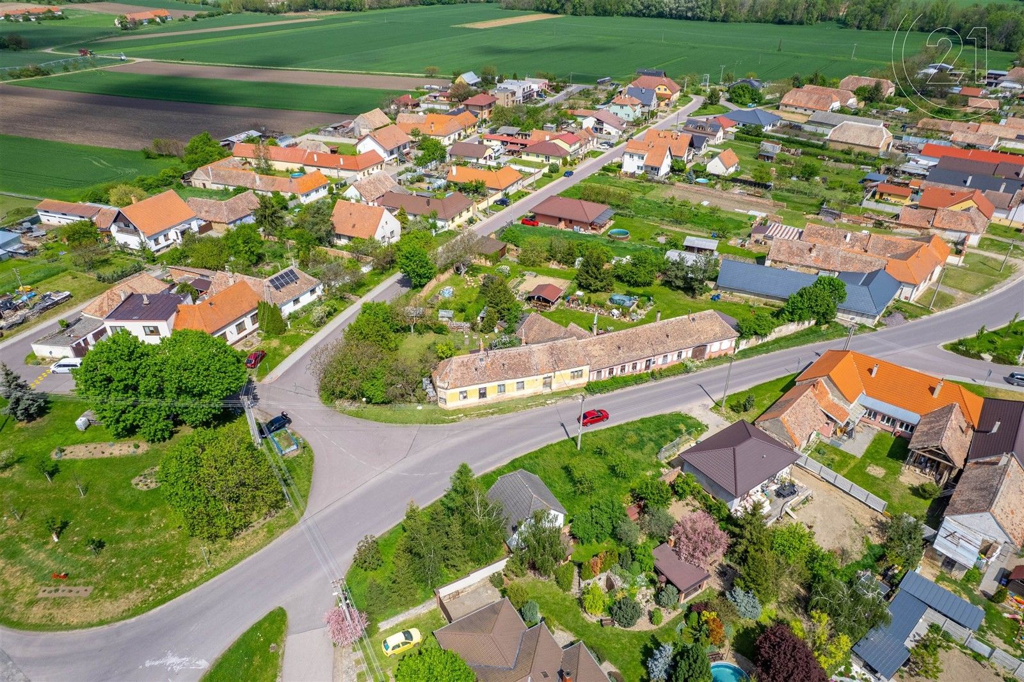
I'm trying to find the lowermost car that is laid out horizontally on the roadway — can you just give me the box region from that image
[578,410,609,425]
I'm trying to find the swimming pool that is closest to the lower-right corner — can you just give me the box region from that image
[706,655,750,682]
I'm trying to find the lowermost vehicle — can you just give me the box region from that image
[382,630,421,657]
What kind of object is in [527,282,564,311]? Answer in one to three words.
building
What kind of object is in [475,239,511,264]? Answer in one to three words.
shed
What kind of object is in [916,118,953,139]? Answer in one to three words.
house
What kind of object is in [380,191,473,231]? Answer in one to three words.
house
